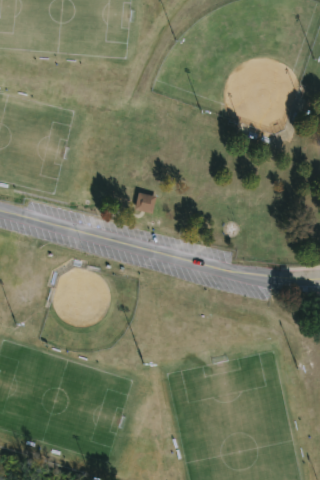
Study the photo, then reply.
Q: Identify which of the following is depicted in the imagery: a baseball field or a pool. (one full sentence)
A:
There is a baseball field in the scene.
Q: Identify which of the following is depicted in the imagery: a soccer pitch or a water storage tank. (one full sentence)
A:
Visible in the photo is a soccer pitch.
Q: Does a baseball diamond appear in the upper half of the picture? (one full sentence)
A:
Yes, a baseball diamond appears in the upper half of the picture.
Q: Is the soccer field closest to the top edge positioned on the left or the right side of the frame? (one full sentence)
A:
You can find the soccer field closest to the top edge on the left side of the picture.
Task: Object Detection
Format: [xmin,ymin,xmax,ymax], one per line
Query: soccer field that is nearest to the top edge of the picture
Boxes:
[0,0,132,60]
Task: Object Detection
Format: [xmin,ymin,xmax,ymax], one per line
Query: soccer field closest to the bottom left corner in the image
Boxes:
[0,339,133,464]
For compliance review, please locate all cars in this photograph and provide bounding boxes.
[151,233,157,244]
[192,259,202,264]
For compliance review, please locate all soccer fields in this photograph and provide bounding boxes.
[0,339,133,464]
[166,350,302,480]
[0,0,132,60]
[0,92,74,194]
